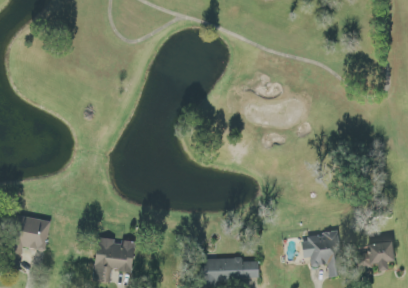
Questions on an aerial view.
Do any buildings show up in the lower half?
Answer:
Yes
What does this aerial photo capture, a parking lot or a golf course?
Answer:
golf course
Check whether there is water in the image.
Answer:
Yes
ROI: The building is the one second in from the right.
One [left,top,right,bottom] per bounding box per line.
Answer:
[302,232,338,278]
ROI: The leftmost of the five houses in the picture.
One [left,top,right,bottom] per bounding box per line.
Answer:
[14,216,50,254]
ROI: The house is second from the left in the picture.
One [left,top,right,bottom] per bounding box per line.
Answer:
[95,237,135,283]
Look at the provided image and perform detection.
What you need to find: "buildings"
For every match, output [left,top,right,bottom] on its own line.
[205,258,258,282]
[14,216,50,254]
[358,240,396,272]
[95,237,135,283]
[302,232,338,278]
